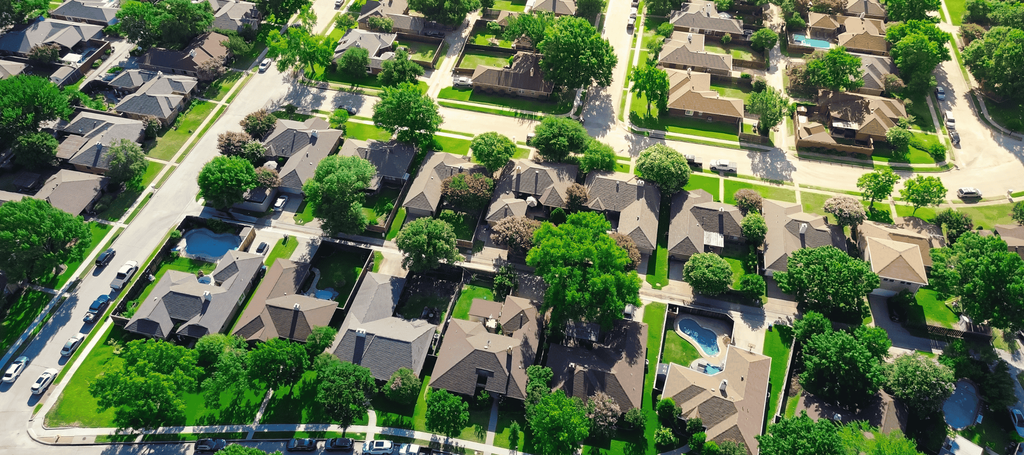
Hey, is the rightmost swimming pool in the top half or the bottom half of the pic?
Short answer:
bottom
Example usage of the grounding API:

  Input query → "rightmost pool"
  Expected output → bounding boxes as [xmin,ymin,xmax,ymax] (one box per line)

[940,376,983,432]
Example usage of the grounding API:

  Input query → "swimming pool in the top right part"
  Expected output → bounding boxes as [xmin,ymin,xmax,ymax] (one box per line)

[793,34,831,48]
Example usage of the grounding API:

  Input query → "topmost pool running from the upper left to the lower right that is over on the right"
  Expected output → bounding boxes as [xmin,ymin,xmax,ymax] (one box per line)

[675,315,723,359]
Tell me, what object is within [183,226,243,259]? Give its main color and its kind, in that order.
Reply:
blue swimming pool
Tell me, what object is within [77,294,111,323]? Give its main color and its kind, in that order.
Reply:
blue truck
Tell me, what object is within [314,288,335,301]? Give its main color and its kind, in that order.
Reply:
blue swimming pool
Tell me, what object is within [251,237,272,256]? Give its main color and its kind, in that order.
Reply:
white car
